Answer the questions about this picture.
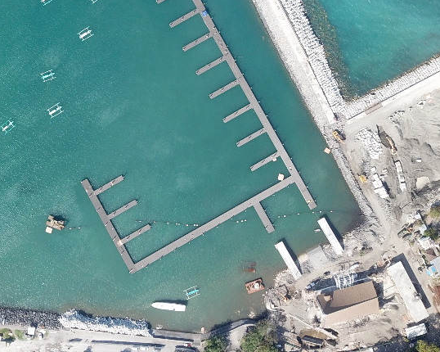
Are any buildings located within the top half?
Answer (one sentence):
No, looking within the top half, there is no building.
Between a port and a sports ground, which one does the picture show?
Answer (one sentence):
This image shows a port.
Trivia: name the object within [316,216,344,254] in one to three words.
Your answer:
pier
